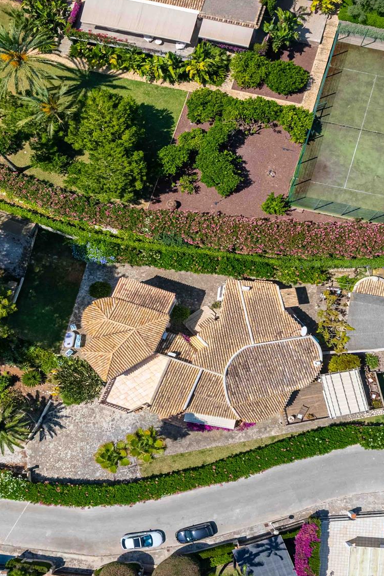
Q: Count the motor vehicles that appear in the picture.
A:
2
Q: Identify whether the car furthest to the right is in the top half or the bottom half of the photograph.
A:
bottom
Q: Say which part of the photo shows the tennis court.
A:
top right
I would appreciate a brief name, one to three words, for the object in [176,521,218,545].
car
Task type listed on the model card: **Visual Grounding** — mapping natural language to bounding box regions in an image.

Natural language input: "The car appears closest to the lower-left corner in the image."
[121,528,164,551]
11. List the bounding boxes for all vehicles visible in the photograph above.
[176,521,218,545]
[121,528,164,551]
